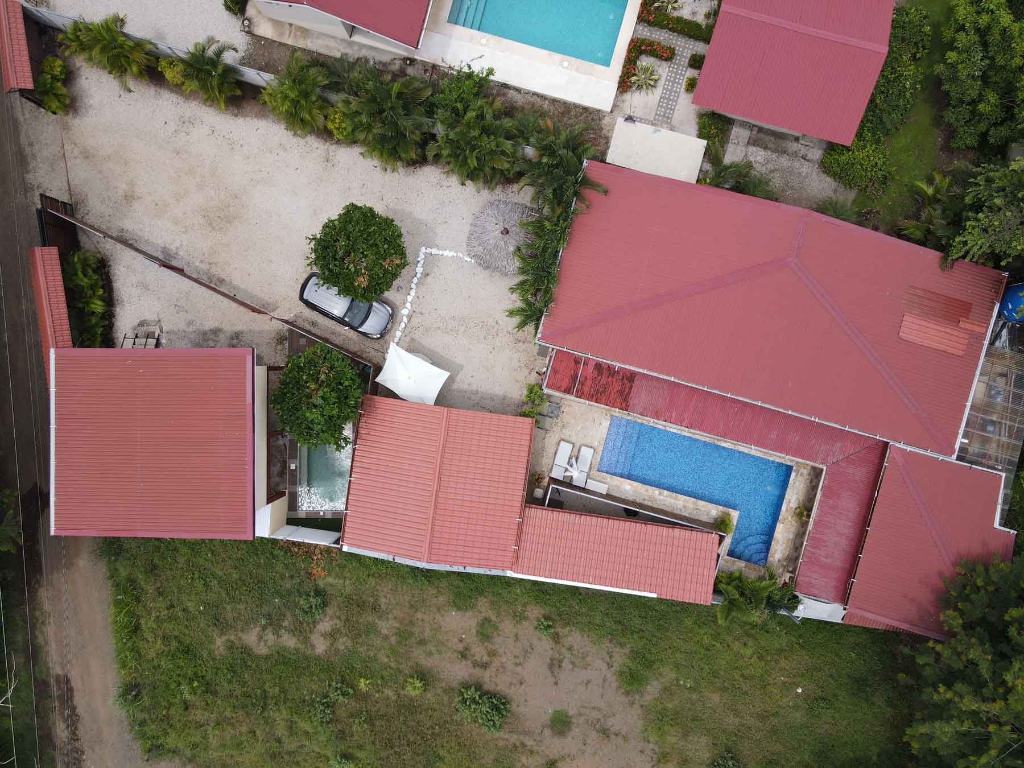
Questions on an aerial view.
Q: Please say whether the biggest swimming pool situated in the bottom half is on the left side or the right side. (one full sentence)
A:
The biggest swimming pool situated in the bottom half appears in the right half of the scene.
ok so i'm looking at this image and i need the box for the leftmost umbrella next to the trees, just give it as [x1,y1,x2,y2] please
[376,342,449,405]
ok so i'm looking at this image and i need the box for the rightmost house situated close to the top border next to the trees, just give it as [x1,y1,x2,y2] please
[692,0,896,149]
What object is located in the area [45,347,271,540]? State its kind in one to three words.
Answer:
house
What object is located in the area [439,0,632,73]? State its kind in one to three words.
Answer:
swimming pool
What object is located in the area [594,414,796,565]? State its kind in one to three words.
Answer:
swimming pool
